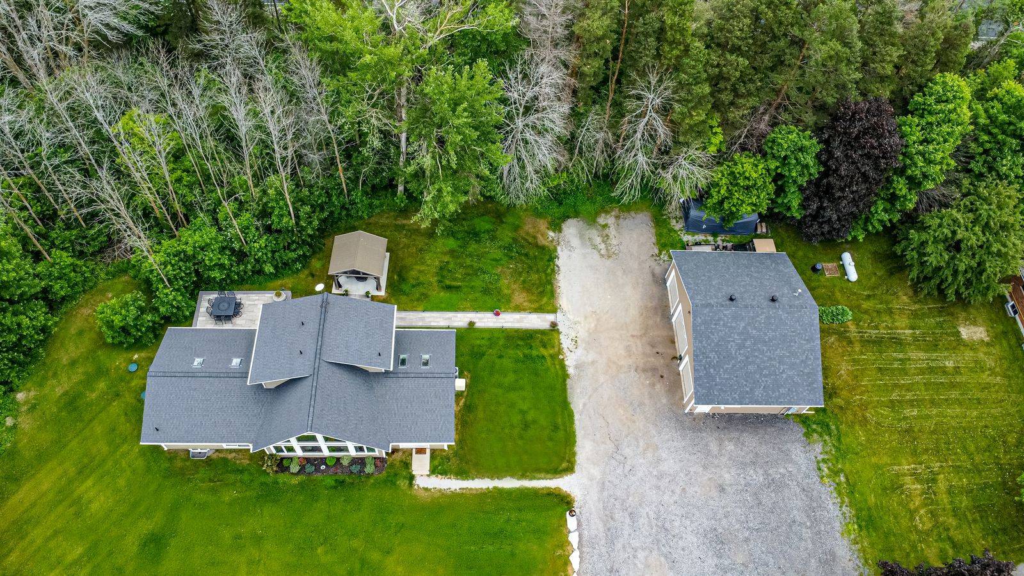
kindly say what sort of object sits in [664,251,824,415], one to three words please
building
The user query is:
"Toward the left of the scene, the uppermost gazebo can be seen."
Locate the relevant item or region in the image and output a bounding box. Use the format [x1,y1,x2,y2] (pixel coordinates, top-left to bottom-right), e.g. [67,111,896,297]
[328,230,388,293]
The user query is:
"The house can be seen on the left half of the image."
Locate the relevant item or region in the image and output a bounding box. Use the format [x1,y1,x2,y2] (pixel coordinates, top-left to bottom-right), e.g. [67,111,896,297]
[141,293,456,458]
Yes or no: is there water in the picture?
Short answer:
No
